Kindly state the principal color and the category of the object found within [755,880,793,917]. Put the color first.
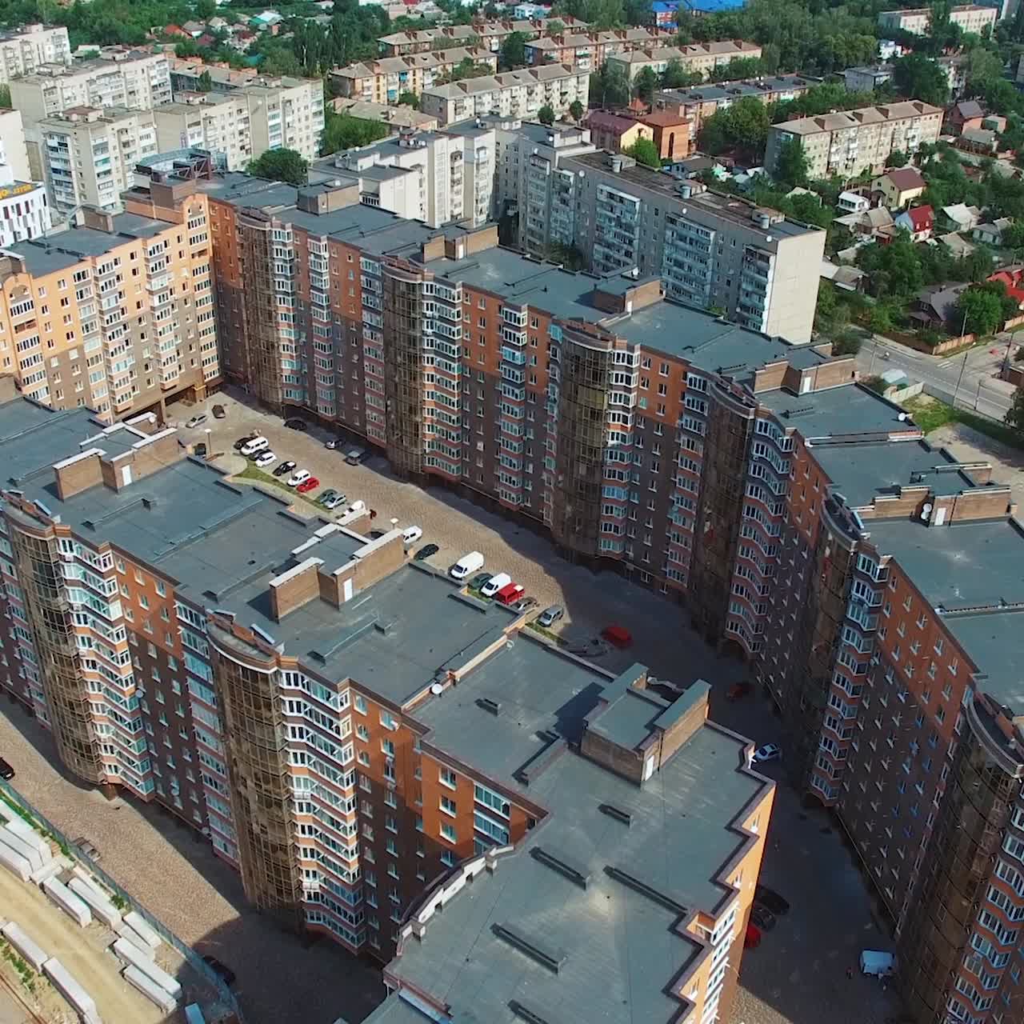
black car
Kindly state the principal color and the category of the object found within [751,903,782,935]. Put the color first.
black car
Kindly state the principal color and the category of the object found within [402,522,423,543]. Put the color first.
white car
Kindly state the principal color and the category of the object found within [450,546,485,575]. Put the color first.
white car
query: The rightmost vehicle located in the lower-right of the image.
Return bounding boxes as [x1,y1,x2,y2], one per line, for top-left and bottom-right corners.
[848,942,907,976]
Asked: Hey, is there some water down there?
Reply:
No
